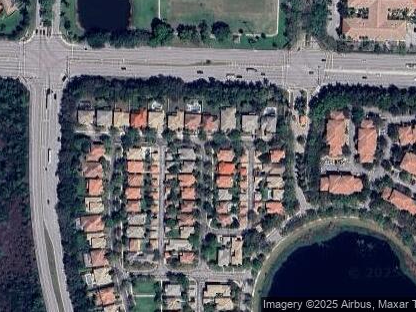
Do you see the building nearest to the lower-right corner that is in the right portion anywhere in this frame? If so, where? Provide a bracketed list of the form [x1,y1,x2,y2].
[381,185,416,214]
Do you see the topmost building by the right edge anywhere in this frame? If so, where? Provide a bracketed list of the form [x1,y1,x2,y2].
[341,0,416,42]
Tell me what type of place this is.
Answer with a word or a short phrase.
residential area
